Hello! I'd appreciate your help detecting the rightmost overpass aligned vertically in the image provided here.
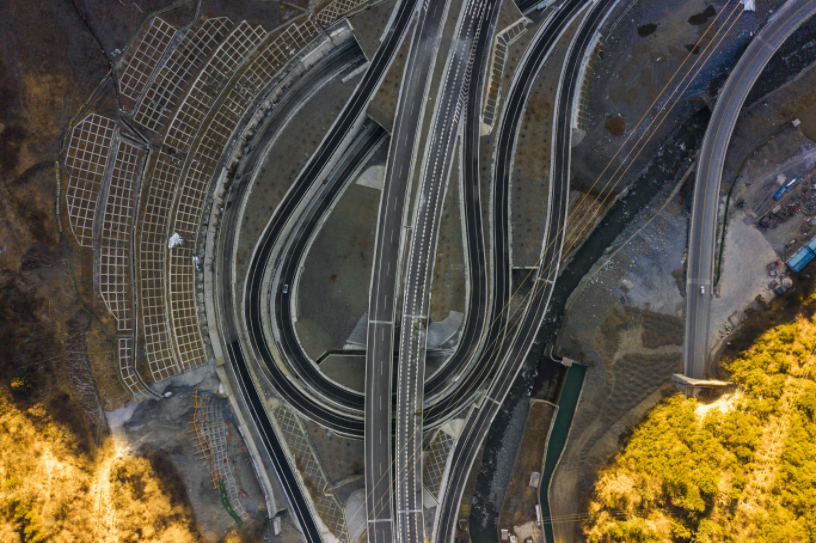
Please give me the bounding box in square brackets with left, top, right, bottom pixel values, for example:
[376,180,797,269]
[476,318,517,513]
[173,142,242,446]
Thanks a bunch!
[682,0,816,383]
